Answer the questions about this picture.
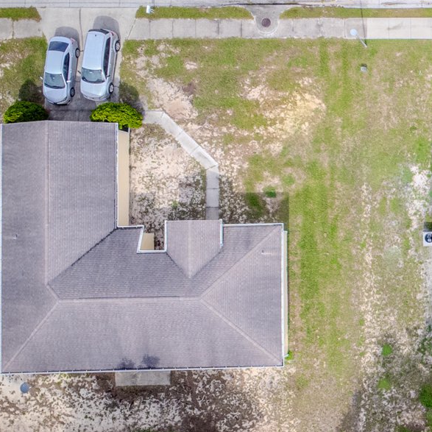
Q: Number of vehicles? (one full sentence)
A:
In total, there are 2 vehicles in the scene.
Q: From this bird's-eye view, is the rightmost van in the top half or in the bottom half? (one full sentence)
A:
It is in the top half that the rightmost van appears.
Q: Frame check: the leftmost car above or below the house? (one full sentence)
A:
It's above the house that the leftmost car shows up.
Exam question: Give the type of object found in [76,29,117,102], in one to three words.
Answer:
van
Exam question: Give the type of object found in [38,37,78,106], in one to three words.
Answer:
car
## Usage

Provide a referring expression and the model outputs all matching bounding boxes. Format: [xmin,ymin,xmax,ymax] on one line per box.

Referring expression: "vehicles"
[76,29,117,102]
[38,37,78,106]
